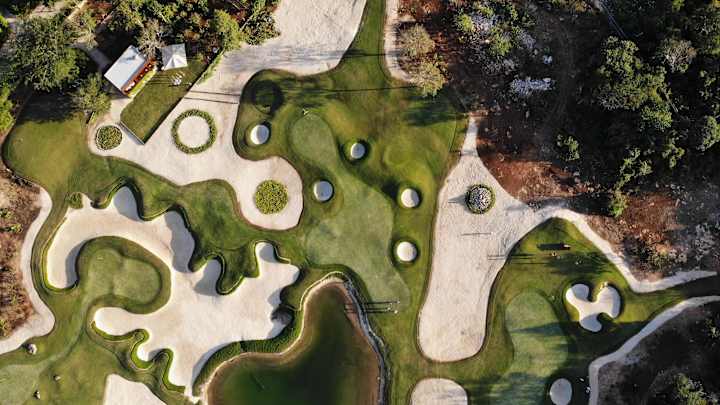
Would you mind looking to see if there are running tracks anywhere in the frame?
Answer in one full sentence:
No, there isn't any running track down there.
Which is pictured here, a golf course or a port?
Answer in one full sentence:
The area seen from above is a golf course.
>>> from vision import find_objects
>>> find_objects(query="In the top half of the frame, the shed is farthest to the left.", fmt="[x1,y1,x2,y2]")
[103,45,155,96]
